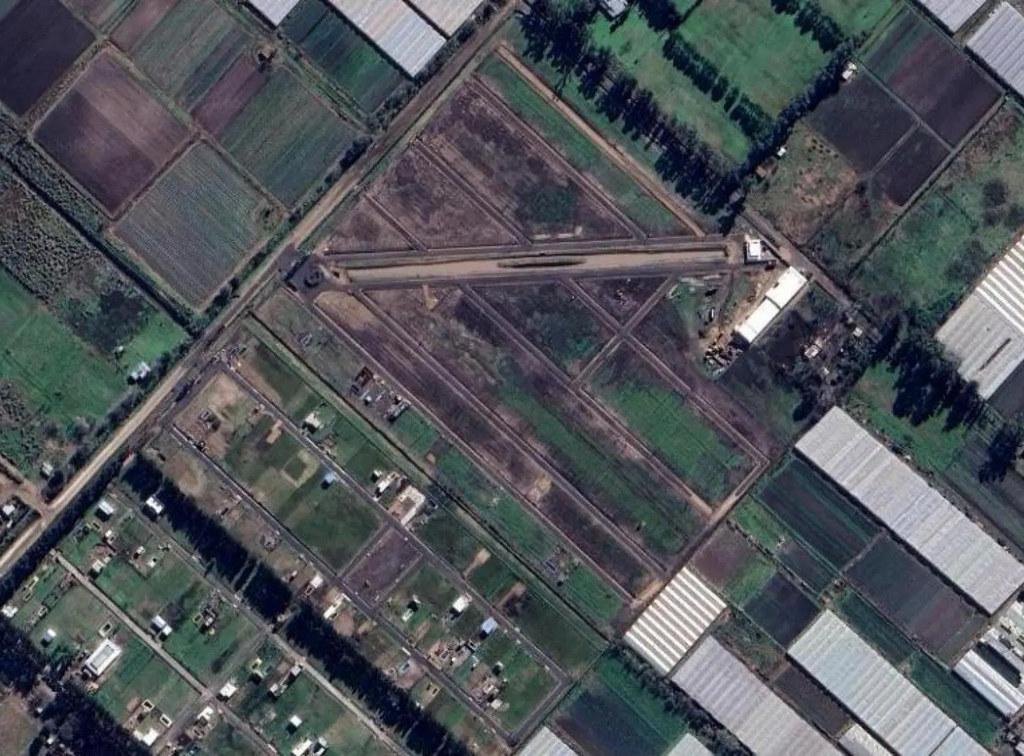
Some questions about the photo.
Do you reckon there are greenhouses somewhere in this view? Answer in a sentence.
Yes, this view includes a greenhouse.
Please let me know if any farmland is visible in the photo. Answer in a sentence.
Yes, the picture does contain farmland.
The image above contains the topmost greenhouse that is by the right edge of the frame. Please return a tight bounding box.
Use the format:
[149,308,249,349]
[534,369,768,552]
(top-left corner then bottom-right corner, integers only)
[922,0,984,31]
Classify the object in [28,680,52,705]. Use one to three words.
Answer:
barn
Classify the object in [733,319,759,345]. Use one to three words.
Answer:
building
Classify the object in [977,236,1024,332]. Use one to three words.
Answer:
greenhouse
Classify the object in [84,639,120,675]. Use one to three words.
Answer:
house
